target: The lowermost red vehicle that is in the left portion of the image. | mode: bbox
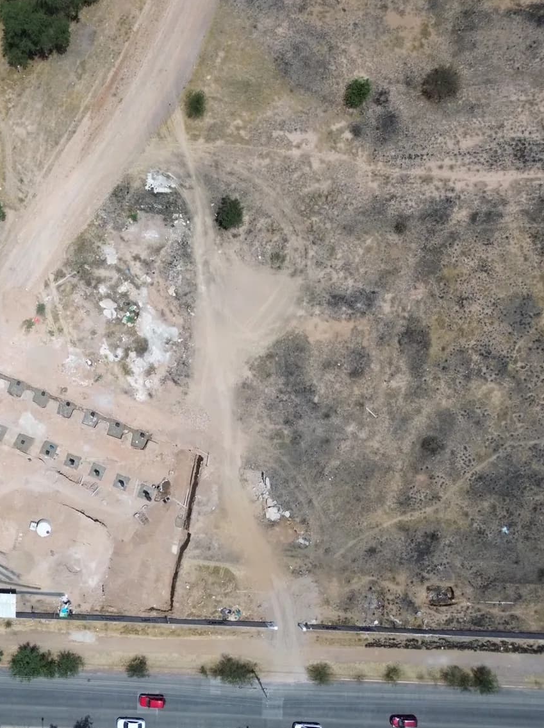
[139,694,166,709]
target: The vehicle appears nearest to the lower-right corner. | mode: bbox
[391,713,419,728]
